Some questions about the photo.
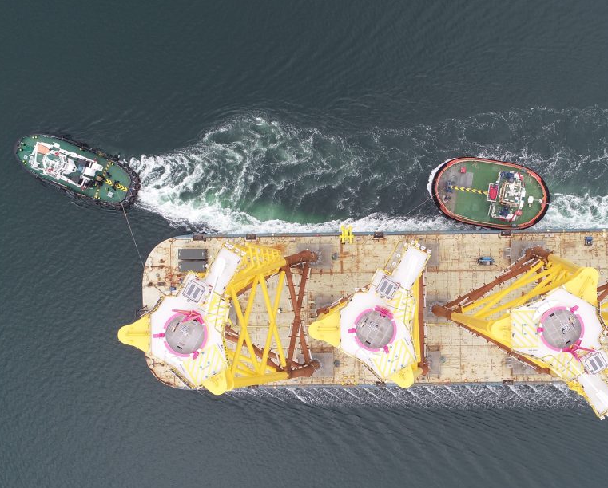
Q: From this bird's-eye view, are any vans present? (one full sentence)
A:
No, the frame has no van in it.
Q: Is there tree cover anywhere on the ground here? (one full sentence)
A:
No, the scene doesn't show any tree cover.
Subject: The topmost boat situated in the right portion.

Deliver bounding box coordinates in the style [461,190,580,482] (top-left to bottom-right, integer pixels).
[431,156,550,229]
